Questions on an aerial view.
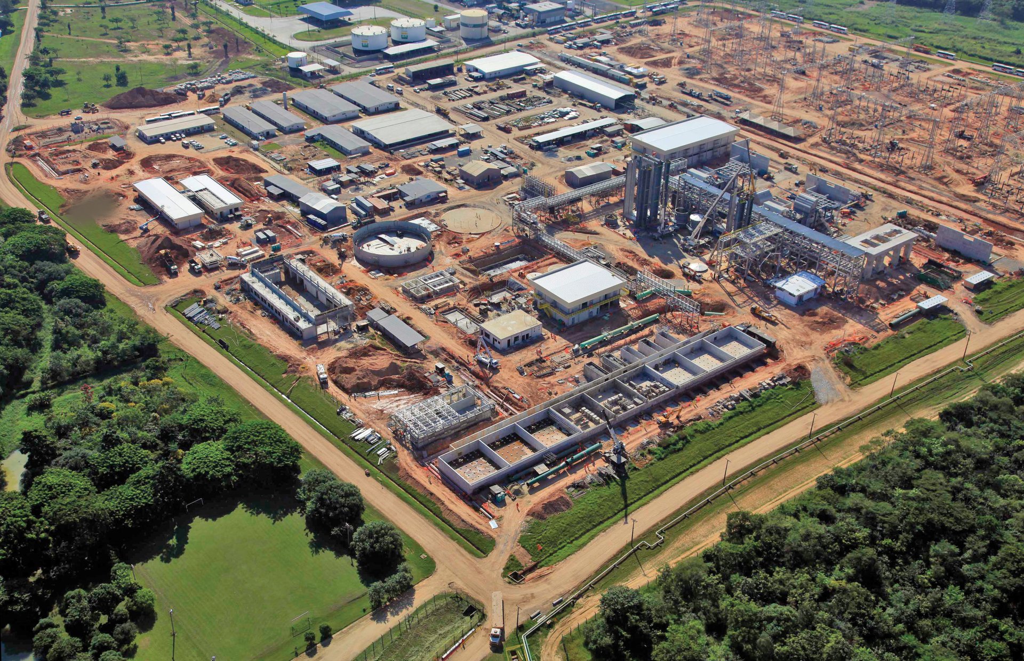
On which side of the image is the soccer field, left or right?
left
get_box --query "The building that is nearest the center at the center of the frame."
[481,310,541,351]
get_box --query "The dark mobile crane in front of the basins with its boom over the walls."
[600,410,635,478]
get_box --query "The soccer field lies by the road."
[108,489,397,661]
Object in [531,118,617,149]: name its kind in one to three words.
shed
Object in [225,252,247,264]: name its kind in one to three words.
vehicle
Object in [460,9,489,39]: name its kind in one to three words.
storage tank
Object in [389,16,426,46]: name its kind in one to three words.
storage tank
